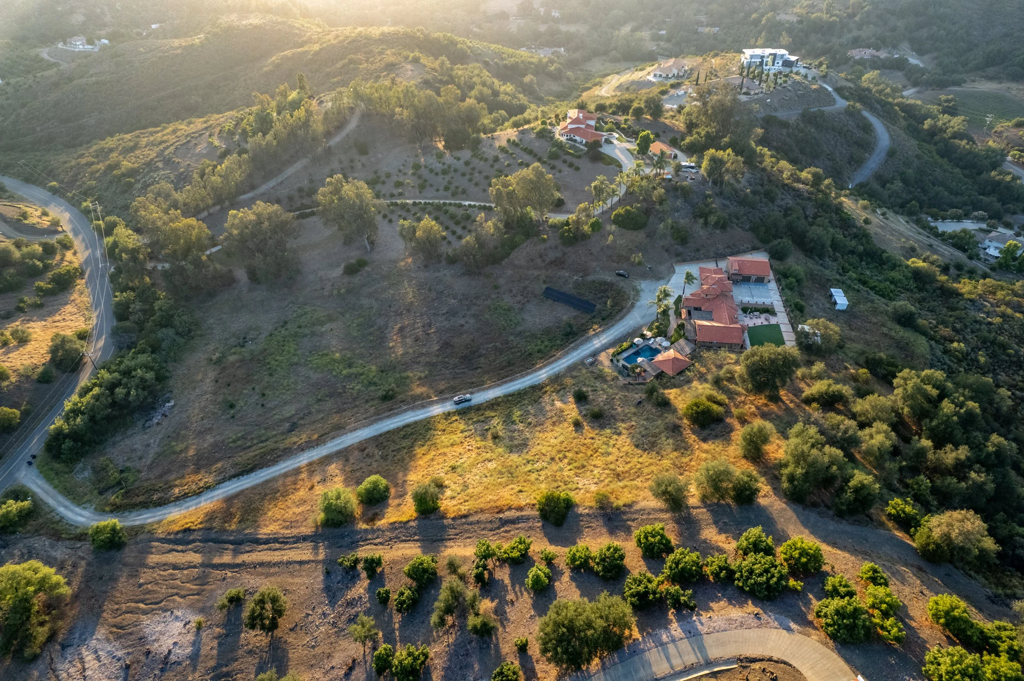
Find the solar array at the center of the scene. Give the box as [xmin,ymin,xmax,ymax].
[542,287,596,314]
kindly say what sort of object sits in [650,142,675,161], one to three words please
building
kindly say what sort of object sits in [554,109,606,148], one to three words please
house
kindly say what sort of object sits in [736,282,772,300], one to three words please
sports court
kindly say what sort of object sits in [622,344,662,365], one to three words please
swimming pool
